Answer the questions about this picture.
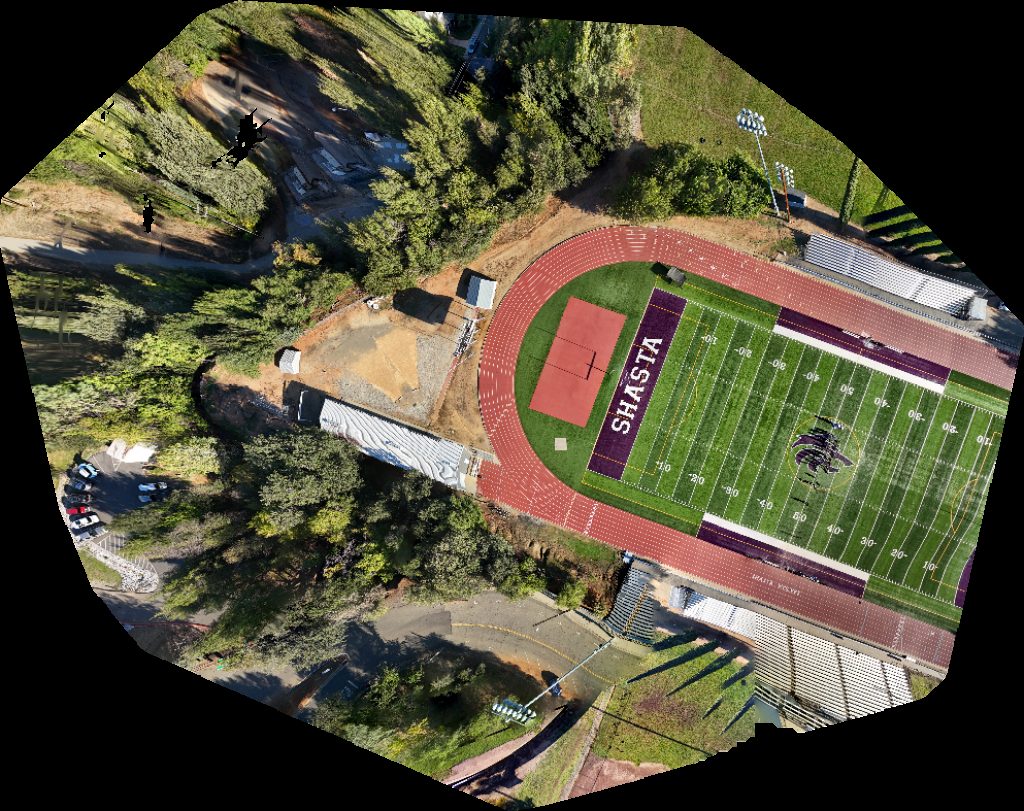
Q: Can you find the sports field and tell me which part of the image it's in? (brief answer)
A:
right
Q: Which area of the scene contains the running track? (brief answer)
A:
right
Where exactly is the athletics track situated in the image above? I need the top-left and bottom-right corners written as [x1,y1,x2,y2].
[475,220,1018,669]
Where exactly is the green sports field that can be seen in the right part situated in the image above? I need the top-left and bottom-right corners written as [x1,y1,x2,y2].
[516,262,1010,631]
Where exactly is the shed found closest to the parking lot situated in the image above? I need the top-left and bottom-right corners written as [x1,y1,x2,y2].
[279,350,309,373]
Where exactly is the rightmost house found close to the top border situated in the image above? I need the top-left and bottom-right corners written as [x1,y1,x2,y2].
[420,9,455,33]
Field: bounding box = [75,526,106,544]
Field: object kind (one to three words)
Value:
vehicle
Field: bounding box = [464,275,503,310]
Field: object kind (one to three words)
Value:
shed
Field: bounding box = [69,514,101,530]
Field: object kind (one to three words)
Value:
vehicle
